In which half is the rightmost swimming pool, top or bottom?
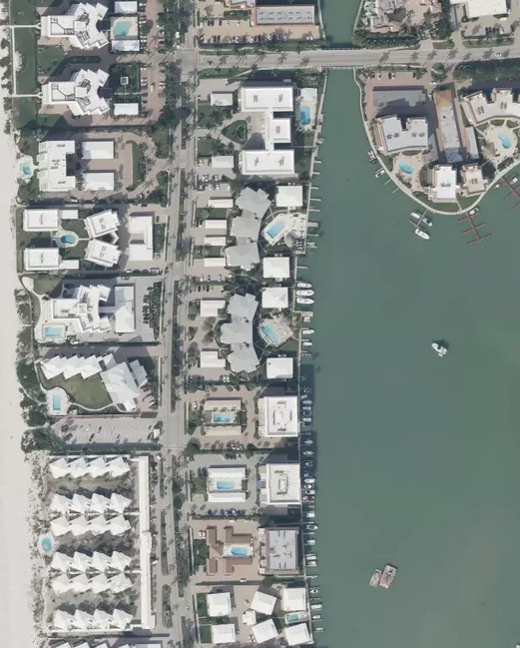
top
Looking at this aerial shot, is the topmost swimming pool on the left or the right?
left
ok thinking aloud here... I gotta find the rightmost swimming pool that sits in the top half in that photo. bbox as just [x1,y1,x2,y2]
[487,120,520,157]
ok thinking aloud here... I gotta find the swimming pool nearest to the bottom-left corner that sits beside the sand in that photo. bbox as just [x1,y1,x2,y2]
[37,533,55,554]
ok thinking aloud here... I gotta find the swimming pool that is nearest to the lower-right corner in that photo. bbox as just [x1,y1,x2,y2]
[286,612,309,625]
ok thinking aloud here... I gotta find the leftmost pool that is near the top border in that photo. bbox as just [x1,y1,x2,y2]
[111,14,138,36]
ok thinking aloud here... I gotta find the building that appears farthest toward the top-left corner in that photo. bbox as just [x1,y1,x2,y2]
[45,2,109,53]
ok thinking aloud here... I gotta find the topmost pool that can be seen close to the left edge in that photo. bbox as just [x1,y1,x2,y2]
[15,152,34,183]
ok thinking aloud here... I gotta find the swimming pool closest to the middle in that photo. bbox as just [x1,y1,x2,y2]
[260,315,294,347]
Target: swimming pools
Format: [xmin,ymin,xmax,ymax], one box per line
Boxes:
[299,97,316,131]
[286,612,309,625]
[208,478,245,492]
[261,213,307,253]
[34,293,68,342]
[487,120,520,157]
[54,230,78,250]
[37,533,55,554]
[224,545,253,557]
[394,154,423,195]
[111,14,138,36]
[43,389,70,416]
[260,315,294,347]
[15,152,34,183]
